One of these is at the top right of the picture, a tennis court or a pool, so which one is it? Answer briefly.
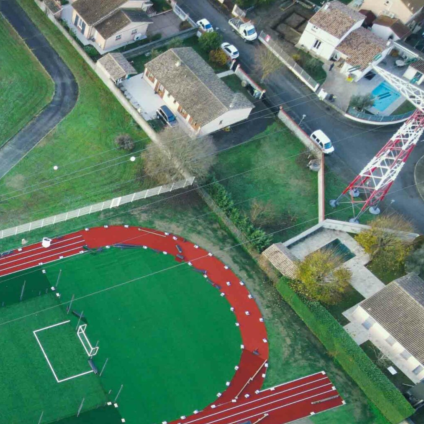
pool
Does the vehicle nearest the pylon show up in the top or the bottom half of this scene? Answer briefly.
top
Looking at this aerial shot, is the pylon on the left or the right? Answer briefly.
right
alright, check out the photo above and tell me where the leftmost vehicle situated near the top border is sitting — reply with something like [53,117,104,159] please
[193,14,216,34]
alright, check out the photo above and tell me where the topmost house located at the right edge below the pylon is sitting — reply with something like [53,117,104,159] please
[352,273,424,384]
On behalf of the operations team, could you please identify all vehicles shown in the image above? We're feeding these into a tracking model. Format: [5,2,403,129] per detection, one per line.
[307,125,338,155]
[193,14,216,34]
[156,101,179,127]
[218,41,243,61]
[226,18,259,40]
